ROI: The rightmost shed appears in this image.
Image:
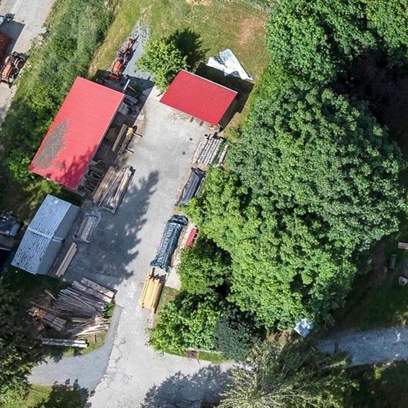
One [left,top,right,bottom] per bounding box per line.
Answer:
[159,70,242,125]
